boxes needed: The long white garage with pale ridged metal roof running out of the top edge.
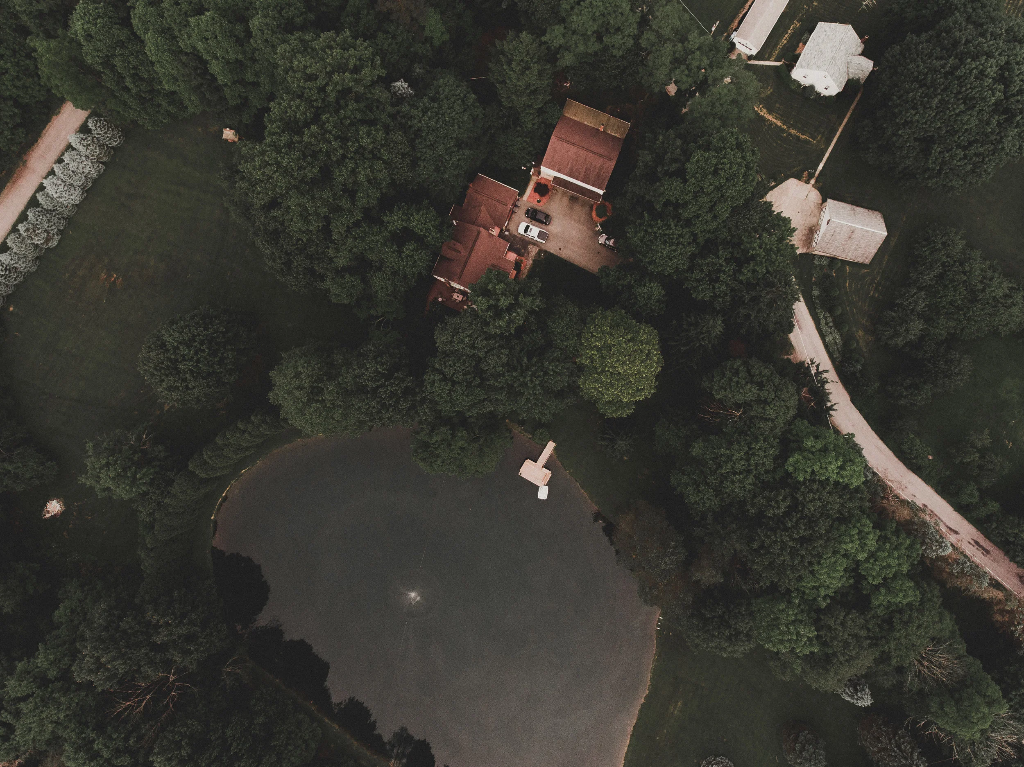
[732,0,789,56]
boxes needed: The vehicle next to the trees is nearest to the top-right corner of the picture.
[598,231,623,250]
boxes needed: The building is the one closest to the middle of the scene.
[433,174,519,290]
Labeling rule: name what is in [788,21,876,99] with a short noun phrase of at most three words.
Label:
house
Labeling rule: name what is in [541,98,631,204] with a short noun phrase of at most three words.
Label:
house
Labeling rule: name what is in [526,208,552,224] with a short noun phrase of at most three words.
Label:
car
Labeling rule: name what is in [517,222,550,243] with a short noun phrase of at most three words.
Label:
truck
